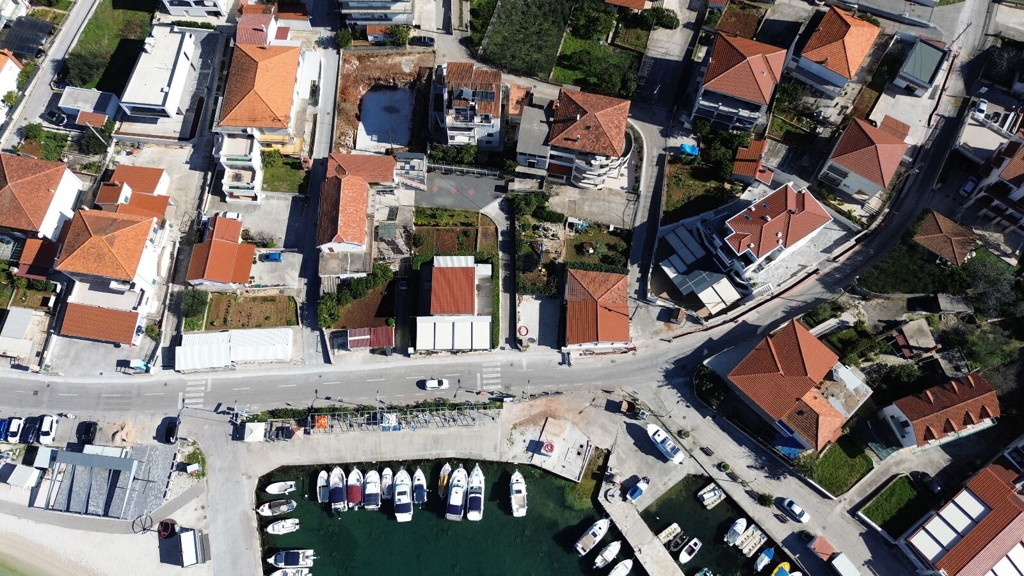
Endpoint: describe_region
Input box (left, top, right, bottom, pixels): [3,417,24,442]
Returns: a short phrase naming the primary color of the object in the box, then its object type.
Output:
white car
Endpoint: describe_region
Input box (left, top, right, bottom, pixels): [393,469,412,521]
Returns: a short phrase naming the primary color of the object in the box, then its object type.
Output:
white boat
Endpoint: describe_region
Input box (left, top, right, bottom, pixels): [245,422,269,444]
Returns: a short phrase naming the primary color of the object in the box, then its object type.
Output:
white tent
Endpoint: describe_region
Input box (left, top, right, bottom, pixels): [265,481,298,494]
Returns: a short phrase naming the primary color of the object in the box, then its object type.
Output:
white boat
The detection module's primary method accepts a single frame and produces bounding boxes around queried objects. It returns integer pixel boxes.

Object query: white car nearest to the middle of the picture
[425,376,448,389]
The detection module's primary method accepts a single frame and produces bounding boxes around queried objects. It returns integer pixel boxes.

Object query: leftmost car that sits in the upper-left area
[42,107,66,123]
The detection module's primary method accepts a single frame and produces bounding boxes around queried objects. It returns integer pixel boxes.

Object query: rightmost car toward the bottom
[922,471,945,494]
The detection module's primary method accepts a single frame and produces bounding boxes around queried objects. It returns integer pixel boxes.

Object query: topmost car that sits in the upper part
[410,32,435,44]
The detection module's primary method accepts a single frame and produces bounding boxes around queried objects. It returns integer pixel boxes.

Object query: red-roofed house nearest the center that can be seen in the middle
[431,267,476,316]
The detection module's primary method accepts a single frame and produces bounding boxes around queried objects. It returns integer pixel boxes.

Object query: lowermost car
[783,497,812,525]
